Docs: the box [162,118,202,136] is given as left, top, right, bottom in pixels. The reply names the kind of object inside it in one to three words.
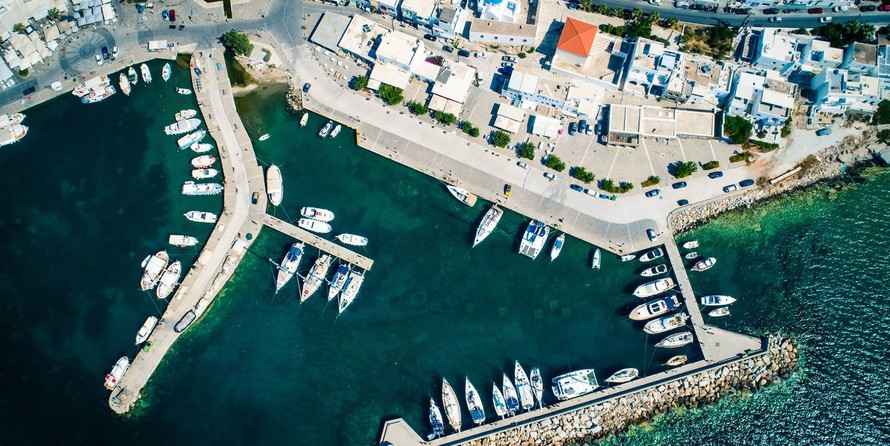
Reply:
boat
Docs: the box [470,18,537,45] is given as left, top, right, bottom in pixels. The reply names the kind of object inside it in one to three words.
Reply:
building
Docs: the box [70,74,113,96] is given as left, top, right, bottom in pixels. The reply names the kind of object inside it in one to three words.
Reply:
boat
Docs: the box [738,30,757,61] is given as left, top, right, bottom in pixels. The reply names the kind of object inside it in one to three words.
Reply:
house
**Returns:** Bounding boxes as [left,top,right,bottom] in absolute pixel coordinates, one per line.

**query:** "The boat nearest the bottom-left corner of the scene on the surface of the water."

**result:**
[103,357,131,392]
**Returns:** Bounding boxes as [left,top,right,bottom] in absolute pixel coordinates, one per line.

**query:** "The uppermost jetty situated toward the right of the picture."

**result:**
[662,236,766,369]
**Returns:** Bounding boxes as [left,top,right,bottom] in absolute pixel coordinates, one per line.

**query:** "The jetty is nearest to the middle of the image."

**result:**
[263,213,373,270]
